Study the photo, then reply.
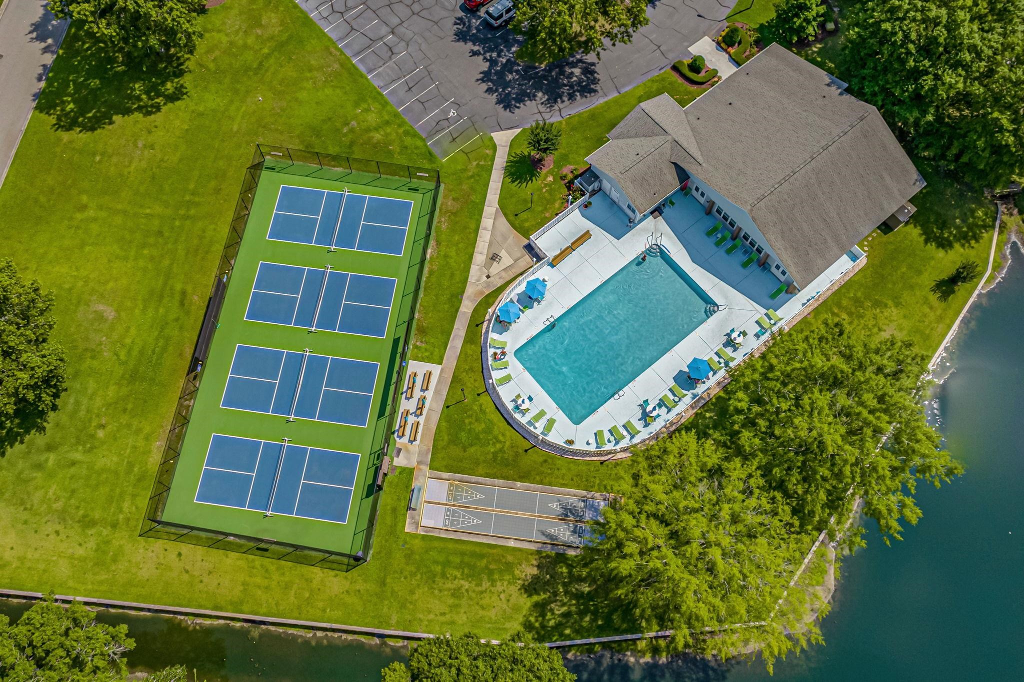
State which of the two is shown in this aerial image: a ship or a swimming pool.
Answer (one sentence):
The one in the frame is a swimming pool.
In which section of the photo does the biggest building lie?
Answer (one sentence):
The biggest building appears toward the top right of the photo.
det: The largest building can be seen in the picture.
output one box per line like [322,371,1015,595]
[585,42,927,296]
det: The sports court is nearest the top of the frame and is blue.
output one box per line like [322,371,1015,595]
[266,184,414,256]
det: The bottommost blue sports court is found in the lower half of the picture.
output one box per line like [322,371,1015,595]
[194,434,361,523]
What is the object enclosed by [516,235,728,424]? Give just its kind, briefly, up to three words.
swimming pool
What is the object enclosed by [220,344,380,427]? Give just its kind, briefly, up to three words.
sports court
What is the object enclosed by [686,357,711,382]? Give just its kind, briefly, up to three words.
umbrella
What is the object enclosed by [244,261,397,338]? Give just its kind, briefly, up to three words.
sports court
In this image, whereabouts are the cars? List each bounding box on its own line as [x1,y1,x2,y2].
[486,0,526,28]
[465,0,494,12]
